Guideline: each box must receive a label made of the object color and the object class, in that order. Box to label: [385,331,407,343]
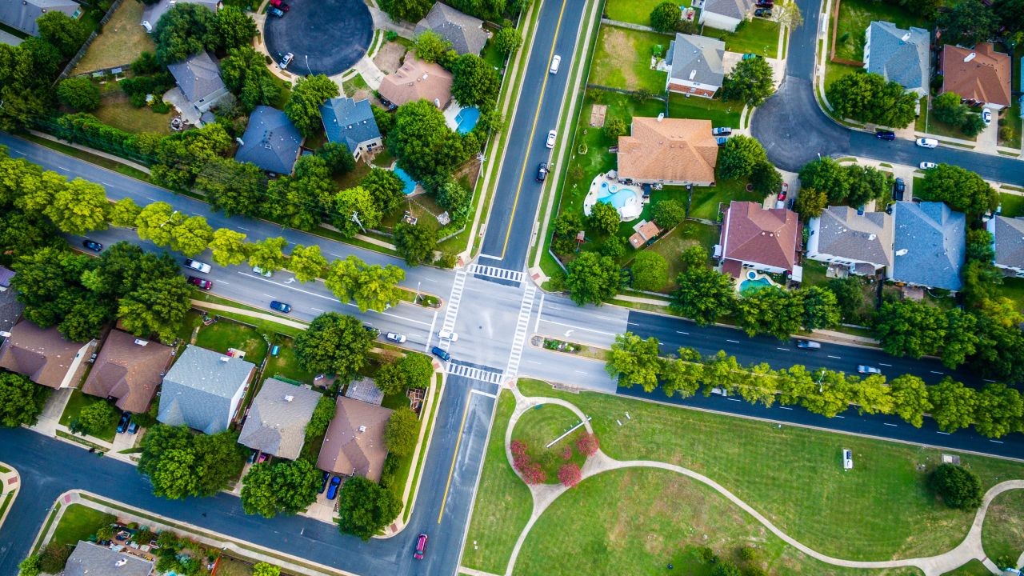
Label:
white vehicle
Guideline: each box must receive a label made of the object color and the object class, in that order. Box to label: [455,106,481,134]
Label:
blue swimming pool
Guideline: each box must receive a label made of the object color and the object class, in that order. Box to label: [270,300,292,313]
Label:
blue vehicle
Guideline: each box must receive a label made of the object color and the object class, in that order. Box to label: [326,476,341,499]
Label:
blue car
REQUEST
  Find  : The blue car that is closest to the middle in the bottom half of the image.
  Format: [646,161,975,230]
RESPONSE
[430,345,451,360]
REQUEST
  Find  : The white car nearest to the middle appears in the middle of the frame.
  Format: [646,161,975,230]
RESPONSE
[437,330,458,342]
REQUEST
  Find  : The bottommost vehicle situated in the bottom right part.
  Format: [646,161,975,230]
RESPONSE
[841,447,854,471]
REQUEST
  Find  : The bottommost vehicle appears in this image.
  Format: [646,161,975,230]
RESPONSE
[414,534,427,558]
